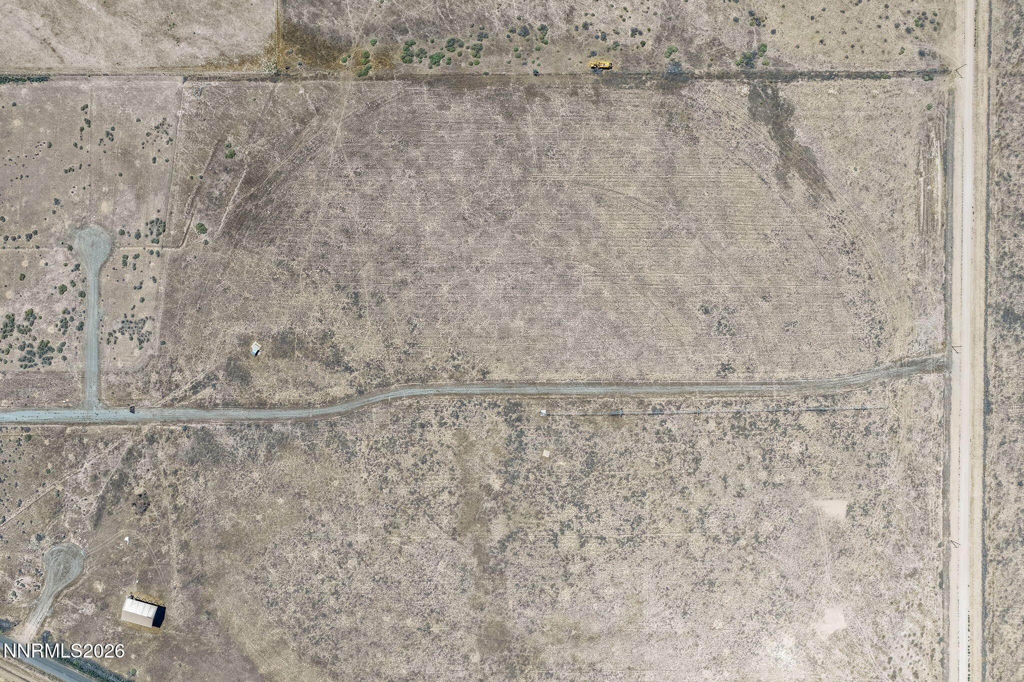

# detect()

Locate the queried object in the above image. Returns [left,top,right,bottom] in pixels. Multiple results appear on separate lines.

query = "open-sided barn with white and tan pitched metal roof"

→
[121,595,162,628]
